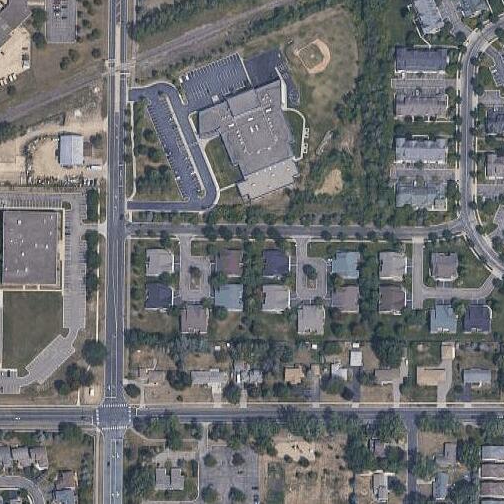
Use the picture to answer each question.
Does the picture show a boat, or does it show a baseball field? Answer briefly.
baseball field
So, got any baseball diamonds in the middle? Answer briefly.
No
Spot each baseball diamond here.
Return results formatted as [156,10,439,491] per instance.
[288,37,330,73]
